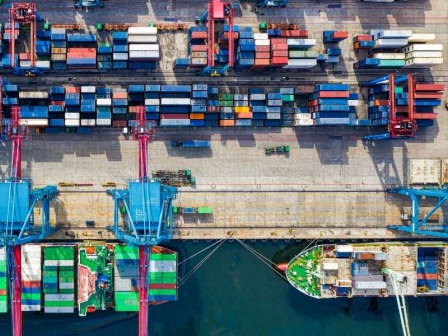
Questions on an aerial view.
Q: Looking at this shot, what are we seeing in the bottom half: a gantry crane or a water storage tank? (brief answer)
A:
gantry crane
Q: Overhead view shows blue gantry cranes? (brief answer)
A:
Yes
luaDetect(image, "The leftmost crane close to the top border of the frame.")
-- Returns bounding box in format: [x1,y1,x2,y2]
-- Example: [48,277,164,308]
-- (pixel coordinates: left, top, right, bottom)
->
[10,3,45,80]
